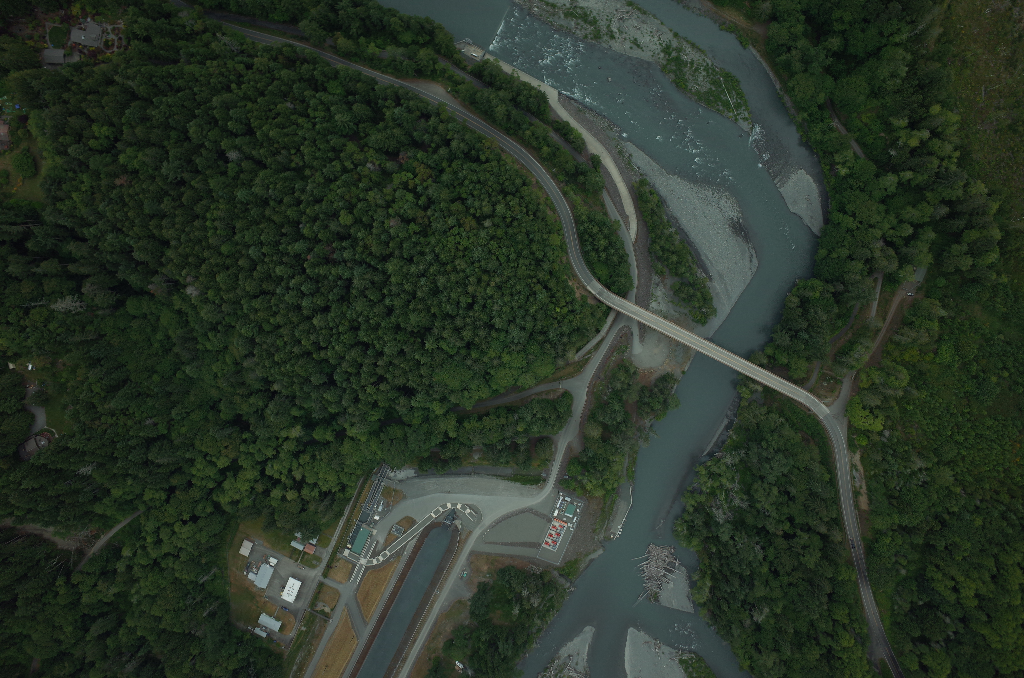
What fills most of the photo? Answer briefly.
trees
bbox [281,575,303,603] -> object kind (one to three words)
building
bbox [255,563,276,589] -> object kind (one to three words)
building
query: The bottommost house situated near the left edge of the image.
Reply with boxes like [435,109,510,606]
[25,436,51,455]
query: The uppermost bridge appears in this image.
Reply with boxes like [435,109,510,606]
[587,279,830,419]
